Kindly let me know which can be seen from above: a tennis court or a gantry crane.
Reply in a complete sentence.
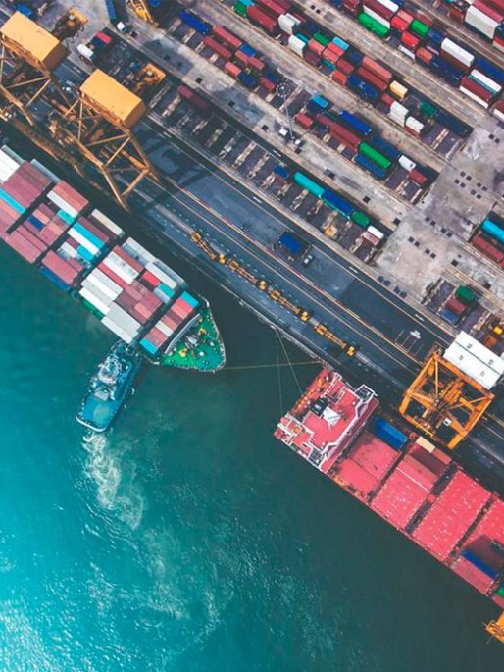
It is a gantry crane that can be seen here.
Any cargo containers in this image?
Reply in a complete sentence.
Yes, this view includes a cargo container.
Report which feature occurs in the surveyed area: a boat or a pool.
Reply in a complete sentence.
It is a boat that can be seen here.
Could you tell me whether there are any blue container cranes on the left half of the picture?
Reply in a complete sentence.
No, the scene shows no blue container crane on the left half of the picture.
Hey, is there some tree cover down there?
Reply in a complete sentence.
No, the scene doesn't show any tree cover.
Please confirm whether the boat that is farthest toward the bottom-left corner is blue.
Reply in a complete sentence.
Yes, the boat that is farthest toward the bottom-left corner is indeed blue.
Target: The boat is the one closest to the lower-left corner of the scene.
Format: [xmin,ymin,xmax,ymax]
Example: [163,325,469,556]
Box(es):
[78,344,138,435]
